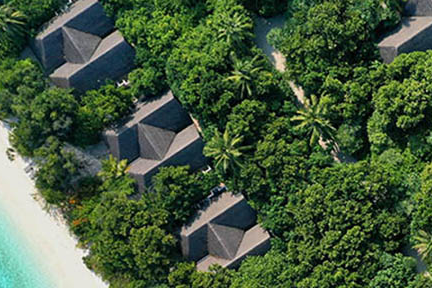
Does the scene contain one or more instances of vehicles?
No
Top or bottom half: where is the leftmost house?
top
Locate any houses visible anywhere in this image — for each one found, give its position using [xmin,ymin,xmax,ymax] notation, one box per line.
[28,0,145,105]
[371,0,432,82]
[104,93,219,198]
[174,190,287,288]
